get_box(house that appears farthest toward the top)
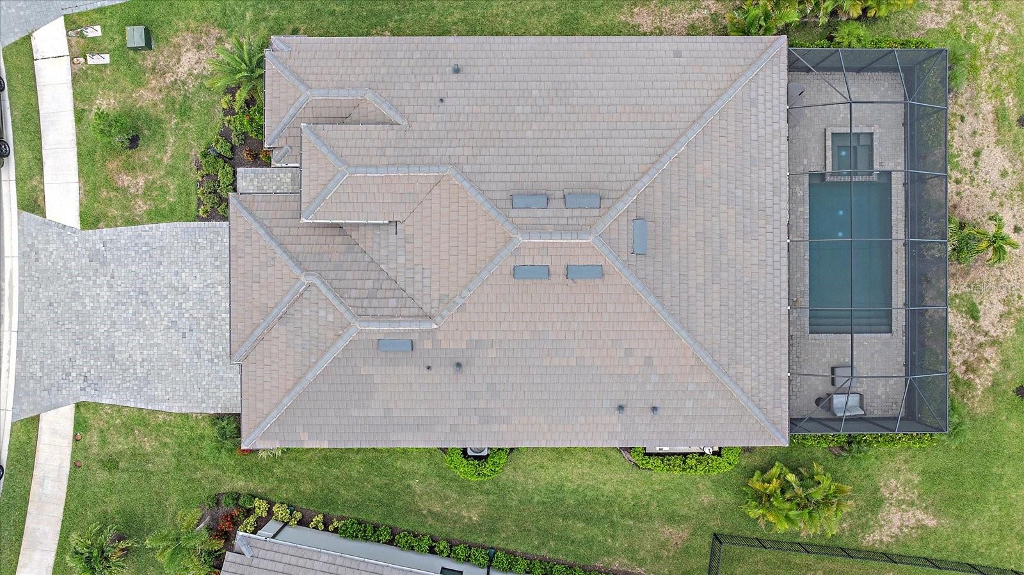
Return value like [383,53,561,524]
[226,33,789,450]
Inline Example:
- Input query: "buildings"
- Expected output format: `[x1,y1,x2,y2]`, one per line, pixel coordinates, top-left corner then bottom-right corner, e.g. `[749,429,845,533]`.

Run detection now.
[219,517,513,575]
[226,33,789,450]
